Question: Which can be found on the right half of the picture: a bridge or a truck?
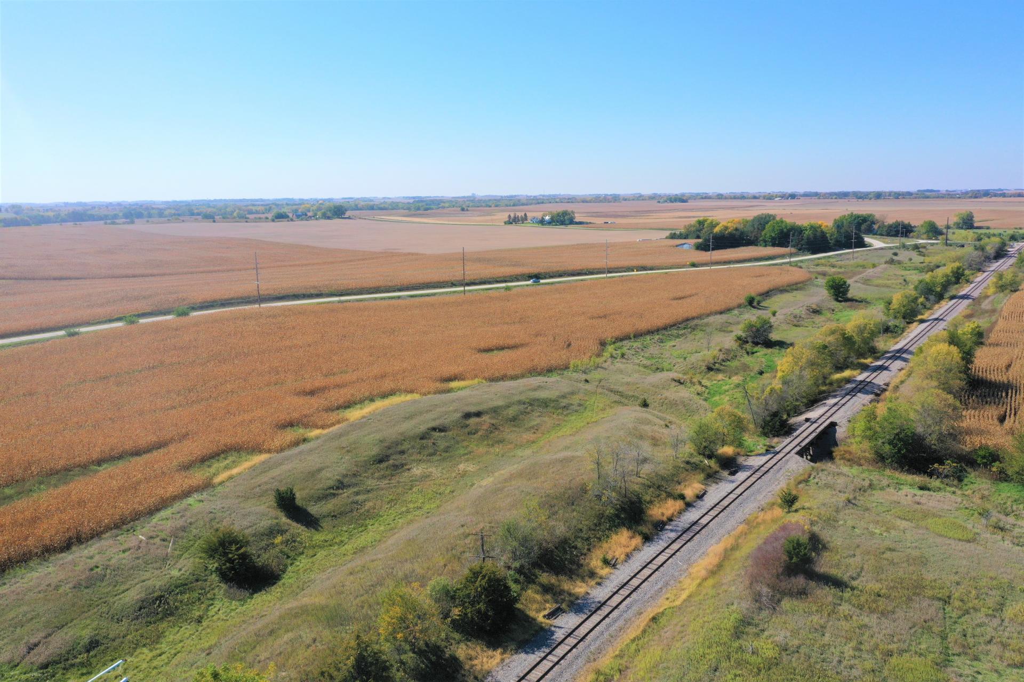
bridge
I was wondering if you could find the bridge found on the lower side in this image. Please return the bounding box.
[763,415,852,467]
